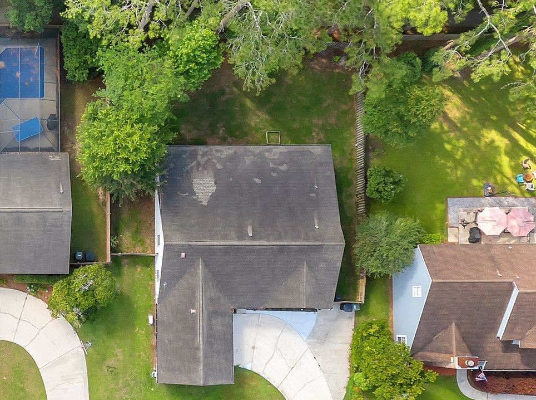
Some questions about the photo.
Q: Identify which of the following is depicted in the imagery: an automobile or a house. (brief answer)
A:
house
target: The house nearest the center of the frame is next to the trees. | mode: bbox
[155,144,350,386]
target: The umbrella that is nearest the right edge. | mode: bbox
[506,208,534,235]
